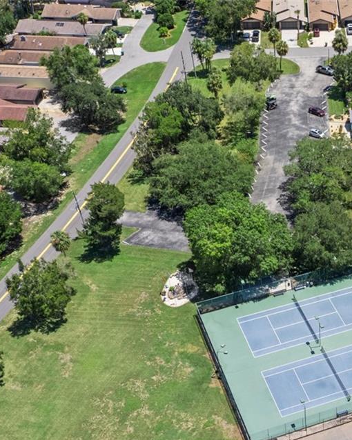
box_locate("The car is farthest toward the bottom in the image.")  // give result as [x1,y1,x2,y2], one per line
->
[308,126,326,139]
